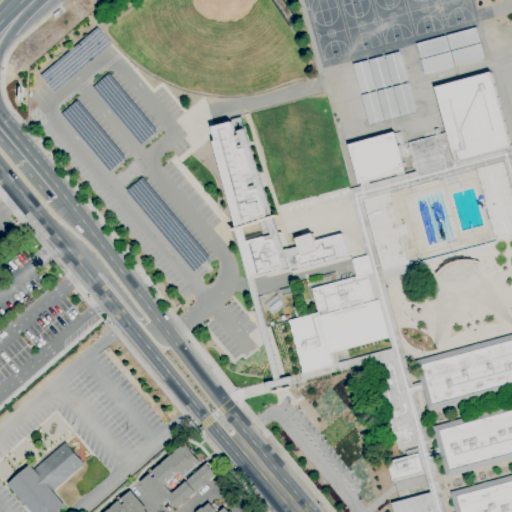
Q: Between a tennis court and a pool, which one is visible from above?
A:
pool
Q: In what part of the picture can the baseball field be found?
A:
top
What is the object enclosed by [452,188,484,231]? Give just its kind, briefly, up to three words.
swimming pool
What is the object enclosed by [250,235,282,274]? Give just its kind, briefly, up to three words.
building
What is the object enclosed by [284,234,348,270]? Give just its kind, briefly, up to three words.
building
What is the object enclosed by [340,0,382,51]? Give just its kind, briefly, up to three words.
basketball court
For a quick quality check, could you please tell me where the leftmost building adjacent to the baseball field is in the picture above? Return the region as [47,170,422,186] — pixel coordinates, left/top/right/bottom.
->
[218,118,266,222]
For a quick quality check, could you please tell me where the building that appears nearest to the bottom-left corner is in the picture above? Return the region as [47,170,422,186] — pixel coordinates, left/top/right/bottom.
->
[7,444,82,512]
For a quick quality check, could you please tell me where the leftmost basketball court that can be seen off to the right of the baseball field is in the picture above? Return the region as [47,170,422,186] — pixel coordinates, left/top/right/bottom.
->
[308,0,351,60]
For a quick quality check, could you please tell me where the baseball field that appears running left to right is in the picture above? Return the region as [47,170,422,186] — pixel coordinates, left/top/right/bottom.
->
[110,0,308,95]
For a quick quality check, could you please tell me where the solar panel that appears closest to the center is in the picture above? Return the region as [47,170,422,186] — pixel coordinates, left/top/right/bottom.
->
[130,177,208,270]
